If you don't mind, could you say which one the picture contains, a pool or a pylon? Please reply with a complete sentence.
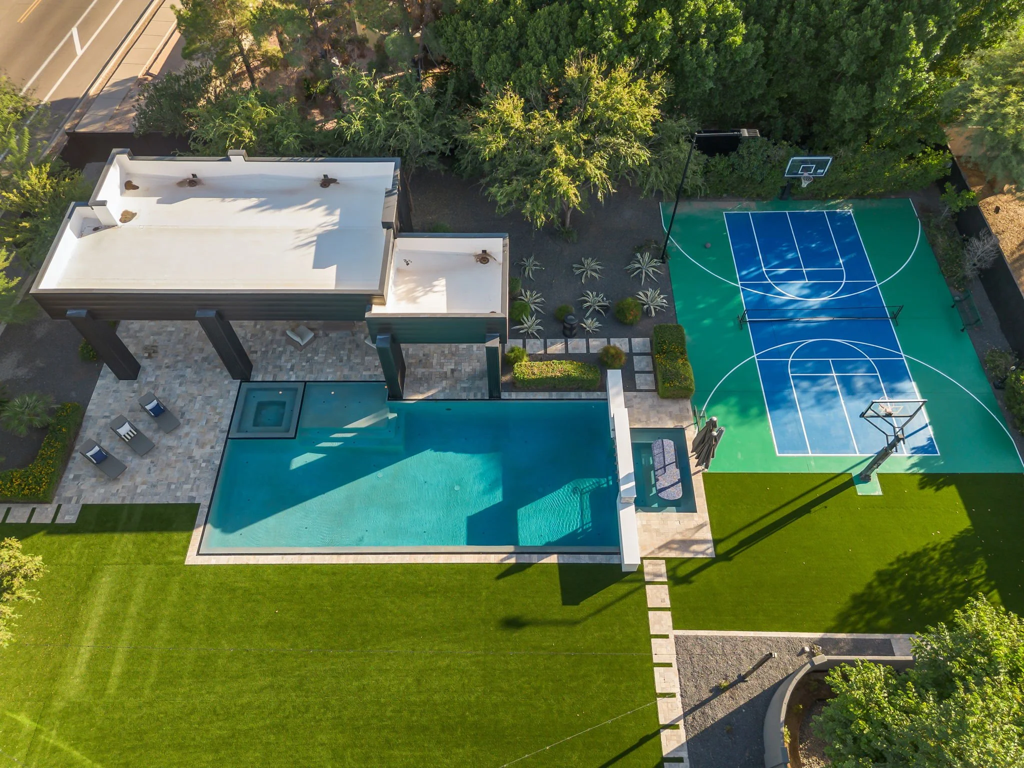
This aerial view contains a pool.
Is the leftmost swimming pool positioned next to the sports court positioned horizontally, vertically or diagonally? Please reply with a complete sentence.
In this picture, the leftmost swimming pool positioned next to the sports court is oriented horizontally.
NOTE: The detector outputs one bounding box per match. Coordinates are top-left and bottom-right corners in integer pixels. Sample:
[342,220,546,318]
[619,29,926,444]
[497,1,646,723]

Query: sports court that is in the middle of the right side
[660,194,1024,495]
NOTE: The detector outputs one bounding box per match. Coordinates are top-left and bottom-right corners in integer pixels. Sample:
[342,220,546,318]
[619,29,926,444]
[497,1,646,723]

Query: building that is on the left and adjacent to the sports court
[30,147,509,398]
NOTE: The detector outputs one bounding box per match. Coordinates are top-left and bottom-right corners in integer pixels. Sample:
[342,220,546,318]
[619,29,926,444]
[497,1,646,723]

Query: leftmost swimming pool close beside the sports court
[197,380,621,555]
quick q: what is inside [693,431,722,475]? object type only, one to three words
umbrella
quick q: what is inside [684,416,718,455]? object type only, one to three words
umbrella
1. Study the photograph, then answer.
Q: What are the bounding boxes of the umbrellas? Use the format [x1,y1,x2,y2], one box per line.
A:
[684,416,718,455]
[693,431,722,475]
